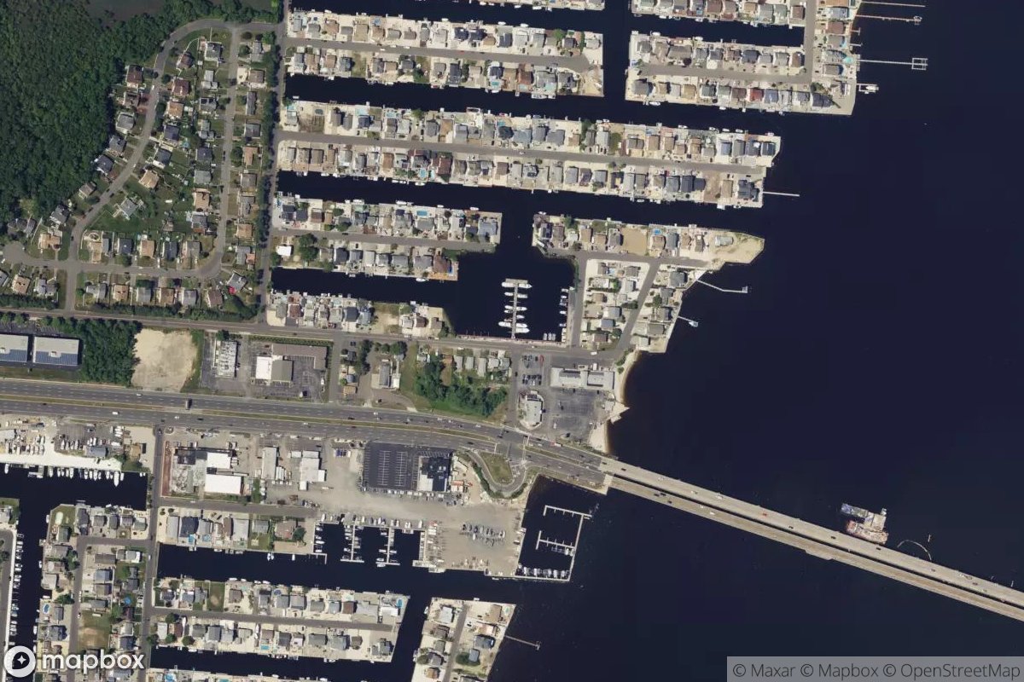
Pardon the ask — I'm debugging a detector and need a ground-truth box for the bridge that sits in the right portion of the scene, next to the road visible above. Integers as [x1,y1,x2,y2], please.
[598,458,1024,608]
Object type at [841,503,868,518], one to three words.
ship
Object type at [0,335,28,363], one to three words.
building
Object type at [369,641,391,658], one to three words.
house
